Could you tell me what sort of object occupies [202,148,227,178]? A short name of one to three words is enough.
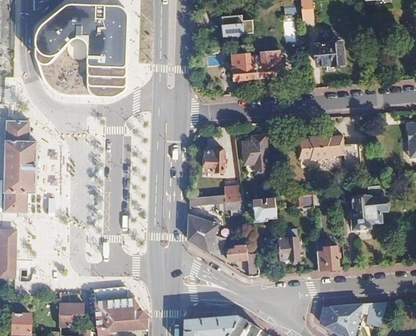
house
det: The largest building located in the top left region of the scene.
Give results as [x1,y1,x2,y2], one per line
[34,5,126,95]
